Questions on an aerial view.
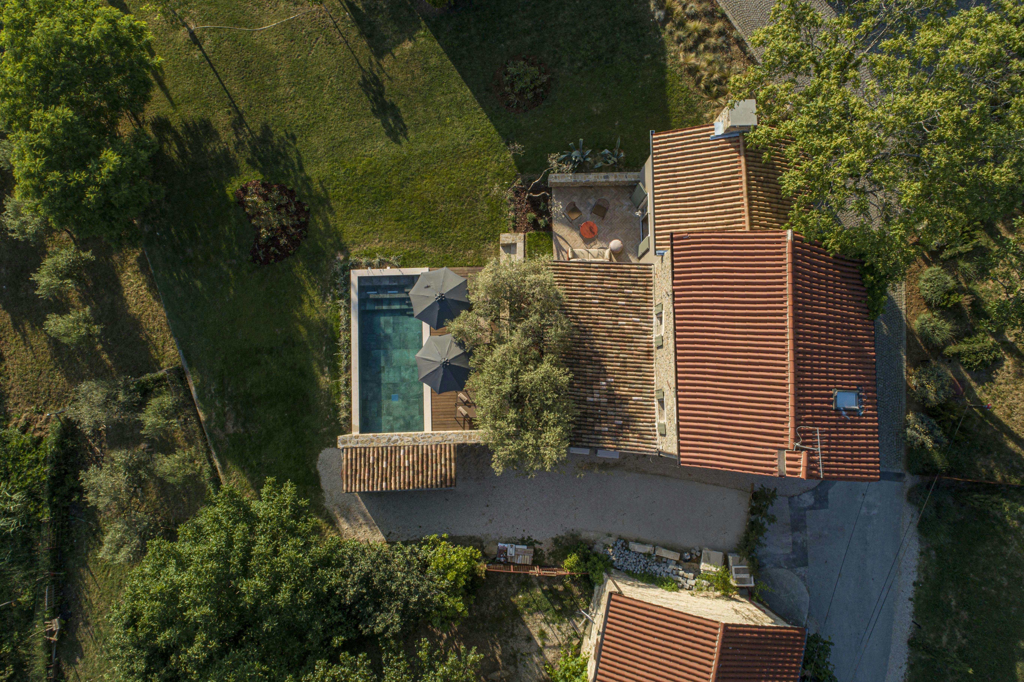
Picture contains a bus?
No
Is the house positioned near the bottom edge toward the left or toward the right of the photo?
right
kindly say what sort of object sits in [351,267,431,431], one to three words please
swimming pool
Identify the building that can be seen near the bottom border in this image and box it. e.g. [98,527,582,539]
[586,572,809,682]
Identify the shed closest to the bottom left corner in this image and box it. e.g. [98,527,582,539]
[341,441,458,495]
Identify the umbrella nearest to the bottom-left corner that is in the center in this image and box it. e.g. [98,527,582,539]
[414,330,476,393]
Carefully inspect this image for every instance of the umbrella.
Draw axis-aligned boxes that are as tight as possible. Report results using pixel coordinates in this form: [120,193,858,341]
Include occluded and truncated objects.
[414,330,476,393]
[409,266,472,329]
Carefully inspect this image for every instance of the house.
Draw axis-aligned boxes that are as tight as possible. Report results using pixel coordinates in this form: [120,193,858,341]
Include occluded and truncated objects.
[586,572,809,682]
[651,228,882,483]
